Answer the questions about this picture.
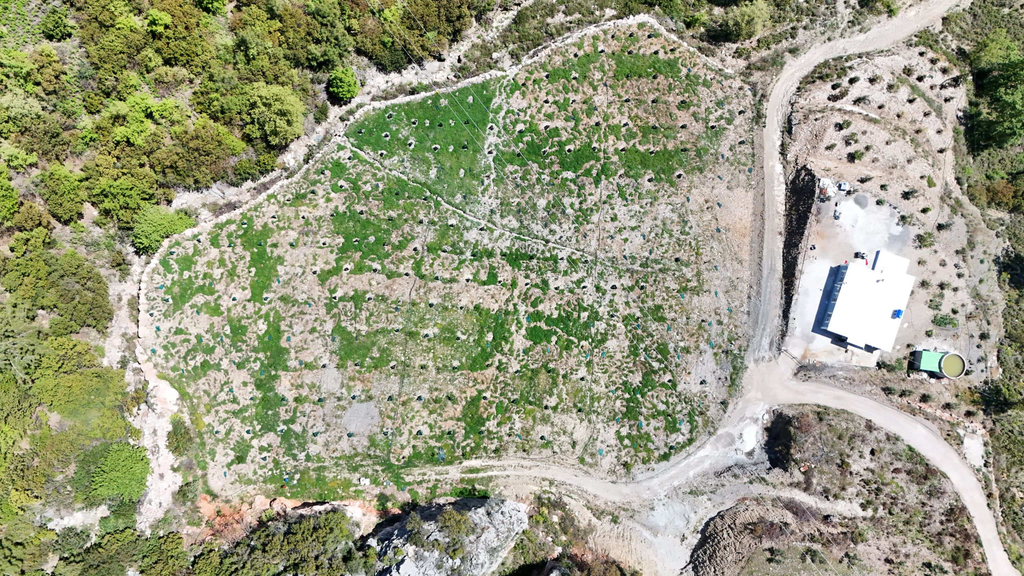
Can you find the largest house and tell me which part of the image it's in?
right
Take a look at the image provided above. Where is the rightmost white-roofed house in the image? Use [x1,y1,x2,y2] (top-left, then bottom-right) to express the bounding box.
[818,250,915,352]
